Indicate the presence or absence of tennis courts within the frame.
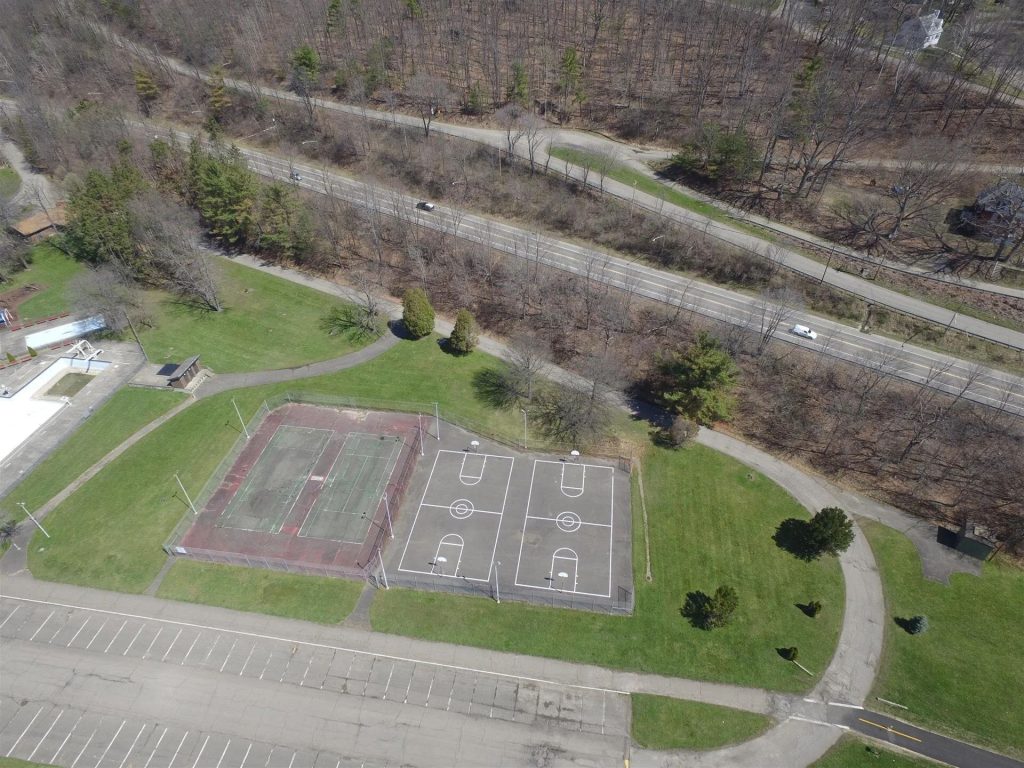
Yes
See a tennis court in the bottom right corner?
No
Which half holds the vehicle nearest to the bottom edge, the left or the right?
right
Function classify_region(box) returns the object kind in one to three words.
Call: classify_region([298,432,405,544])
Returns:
tennis court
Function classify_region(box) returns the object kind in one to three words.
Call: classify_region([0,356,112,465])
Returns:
swimming pool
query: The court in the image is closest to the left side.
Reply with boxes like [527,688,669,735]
[216,425,334,534]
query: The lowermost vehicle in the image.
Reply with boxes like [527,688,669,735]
[790,321,819,341]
